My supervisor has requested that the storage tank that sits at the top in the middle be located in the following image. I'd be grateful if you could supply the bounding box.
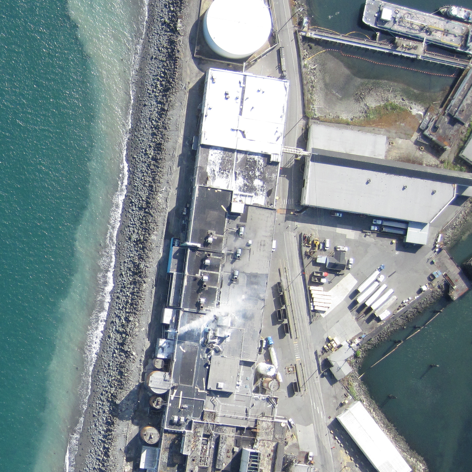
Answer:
[203,0,272,59]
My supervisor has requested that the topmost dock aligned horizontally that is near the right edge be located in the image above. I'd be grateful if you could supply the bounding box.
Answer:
[300,27,469,70]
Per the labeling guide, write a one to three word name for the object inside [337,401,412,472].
building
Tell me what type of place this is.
port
